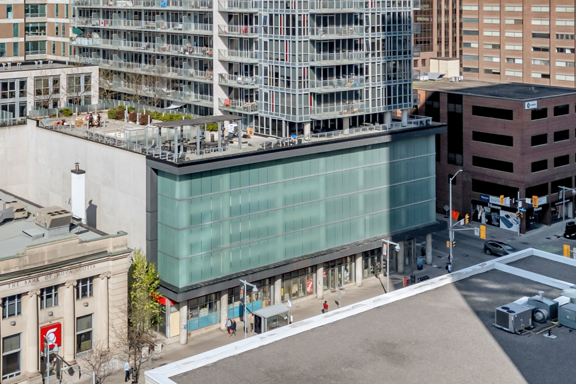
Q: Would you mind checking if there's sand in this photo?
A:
No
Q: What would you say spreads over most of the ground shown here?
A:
buildings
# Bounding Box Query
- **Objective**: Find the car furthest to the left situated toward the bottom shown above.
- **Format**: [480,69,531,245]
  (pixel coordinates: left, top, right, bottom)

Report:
[473,237,511,256]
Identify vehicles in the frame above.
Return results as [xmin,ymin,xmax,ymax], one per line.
[564,224,576,239]
[473,237,511,256]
